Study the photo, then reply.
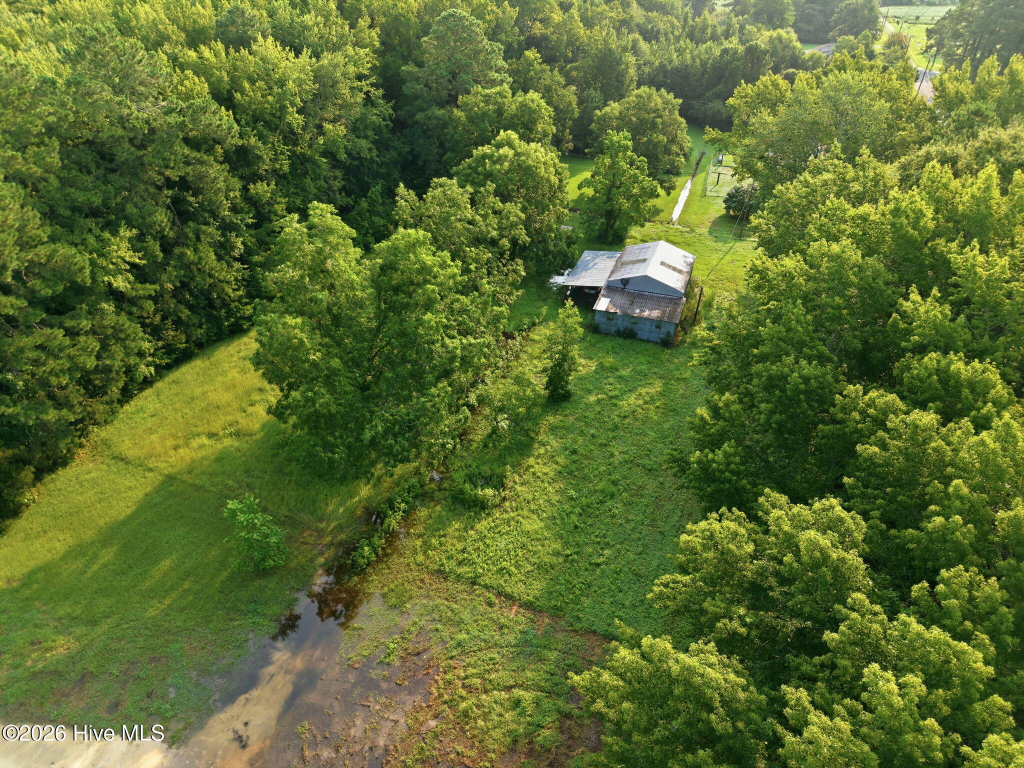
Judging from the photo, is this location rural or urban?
rural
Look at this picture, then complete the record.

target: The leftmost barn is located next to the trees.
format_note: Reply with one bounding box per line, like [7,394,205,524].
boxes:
[563,240,696,341]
